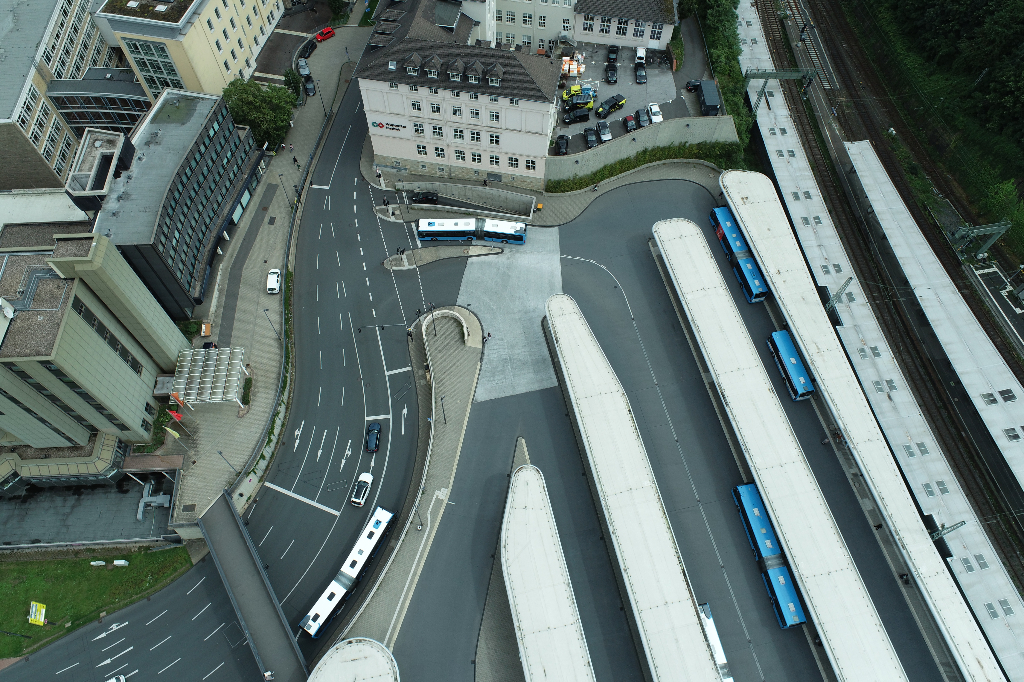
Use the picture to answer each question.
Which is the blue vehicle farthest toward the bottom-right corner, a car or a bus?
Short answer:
bus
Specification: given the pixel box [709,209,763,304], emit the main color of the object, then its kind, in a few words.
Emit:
blue bus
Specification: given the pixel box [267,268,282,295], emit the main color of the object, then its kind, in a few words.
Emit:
white vehicle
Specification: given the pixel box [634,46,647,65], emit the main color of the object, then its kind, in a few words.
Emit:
white vehicle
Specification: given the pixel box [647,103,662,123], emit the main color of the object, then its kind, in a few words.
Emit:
white car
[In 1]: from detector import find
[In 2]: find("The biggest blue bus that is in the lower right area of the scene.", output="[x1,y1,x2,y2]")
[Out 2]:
[730,481,801,625]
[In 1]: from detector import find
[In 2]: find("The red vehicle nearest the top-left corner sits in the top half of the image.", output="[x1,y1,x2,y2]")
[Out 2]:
[315,25,336,41]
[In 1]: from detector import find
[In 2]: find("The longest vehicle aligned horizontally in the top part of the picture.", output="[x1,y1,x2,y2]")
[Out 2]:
[416,220,525,245]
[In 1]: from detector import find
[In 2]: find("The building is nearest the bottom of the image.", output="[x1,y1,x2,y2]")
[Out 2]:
[0,468,182,555]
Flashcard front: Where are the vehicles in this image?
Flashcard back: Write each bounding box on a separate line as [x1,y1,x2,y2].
[297,58,311,76]
[563,108,590,125]
[635,108,649,128]
[730,481,801,625]
[598,96,625,116]
[416,220,525,245]
[349,473,372,507]
[267,268,282,295]
[709,209,763,304]
[683,77,705,92]
[298,39,318,57]
[702,76,722,118]
[302,76,316,96]
[764,328,811,406]
[606,64,618,83]
[412,191,439,202]
[315,25,336,41]
[366,422,381,454]
[566,92,593,111]
[622,114,636,133]
[647,103,662,123]
[634,46,647,65]
[196,337,225,352]
[596,121,612,143]
[635,64,647,83]
[583,127,598,149]
[608,47,619,63]
[564,82,593,100]
[300,505,395,642]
